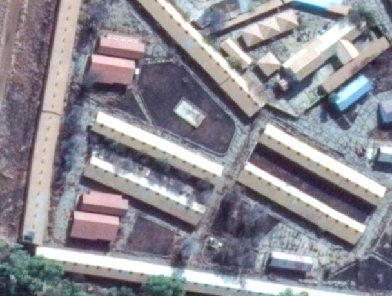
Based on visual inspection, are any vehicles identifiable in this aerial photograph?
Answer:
No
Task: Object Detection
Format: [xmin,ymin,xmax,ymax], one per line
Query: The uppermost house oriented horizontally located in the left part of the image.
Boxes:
[98,32,145,58]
